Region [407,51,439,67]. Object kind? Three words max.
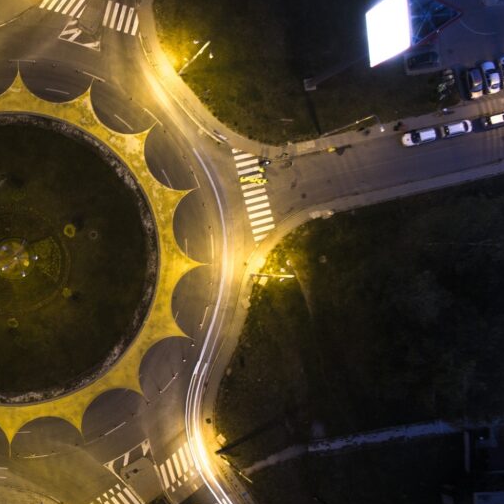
car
